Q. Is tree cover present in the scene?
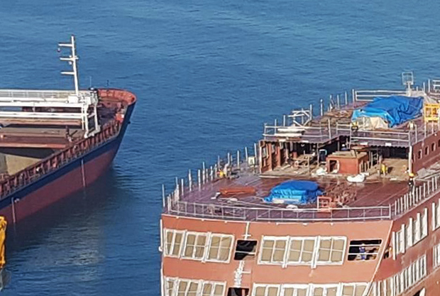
No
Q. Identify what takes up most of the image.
water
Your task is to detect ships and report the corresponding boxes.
[158,69,440,296]
[0,36,128,250]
